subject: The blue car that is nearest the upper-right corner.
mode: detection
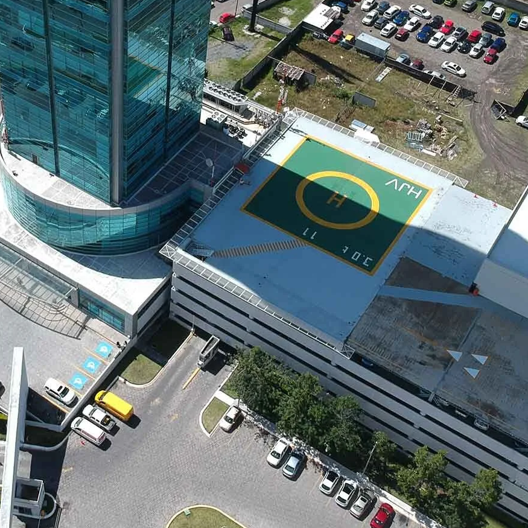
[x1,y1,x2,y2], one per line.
[507,12,520,25]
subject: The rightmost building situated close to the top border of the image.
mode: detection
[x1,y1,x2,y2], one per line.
[302,4,341,42]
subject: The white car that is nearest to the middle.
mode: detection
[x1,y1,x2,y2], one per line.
[218,402,244,435]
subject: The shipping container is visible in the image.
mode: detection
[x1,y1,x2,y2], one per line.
[355,28,392,54]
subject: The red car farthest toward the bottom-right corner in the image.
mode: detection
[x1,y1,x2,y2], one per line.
[369,500,397,528]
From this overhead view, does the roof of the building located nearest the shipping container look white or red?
white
